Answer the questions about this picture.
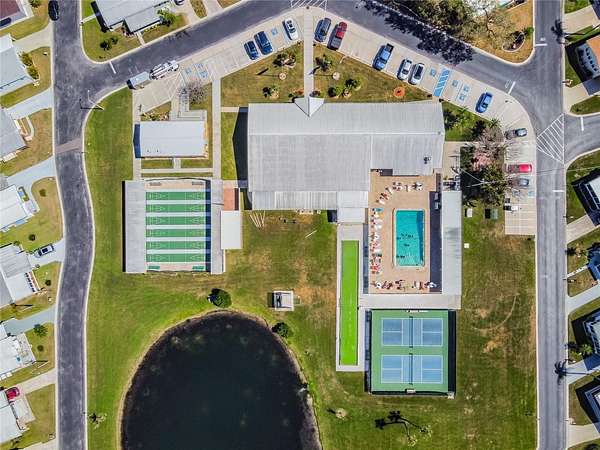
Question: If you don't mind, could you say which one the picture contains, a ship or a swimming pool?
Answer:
swimming pool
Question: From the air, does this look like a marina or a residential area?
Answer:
residential area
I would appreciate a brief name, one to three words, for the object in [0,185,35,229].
house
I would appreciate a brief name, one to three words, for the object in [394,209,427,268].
swimming pool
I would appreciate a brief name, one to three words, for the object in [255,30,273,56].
car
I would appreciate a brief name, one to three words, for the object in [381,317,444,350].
sports court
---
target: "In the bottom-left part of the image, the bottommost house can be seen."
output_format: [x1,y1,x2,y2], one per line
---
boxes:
[0,388,29,444]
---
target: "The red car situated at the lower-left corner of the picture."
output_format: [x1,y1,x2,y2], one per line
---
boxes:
[6,386,25,399]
